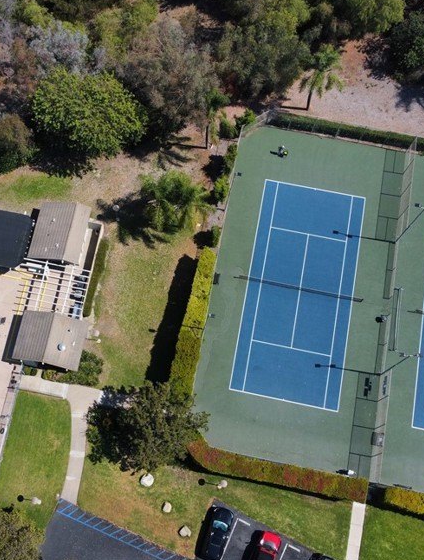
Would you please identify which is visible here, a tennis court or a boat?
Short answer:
tennis court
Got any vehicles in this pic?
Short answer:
Yes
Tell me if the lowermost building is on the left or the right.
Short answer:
left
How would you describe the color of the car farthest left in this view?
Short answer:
black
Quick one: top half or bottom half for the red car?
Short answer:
bottom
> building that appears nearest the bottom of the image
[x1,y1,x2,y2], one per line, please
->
[12,310,89,371]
